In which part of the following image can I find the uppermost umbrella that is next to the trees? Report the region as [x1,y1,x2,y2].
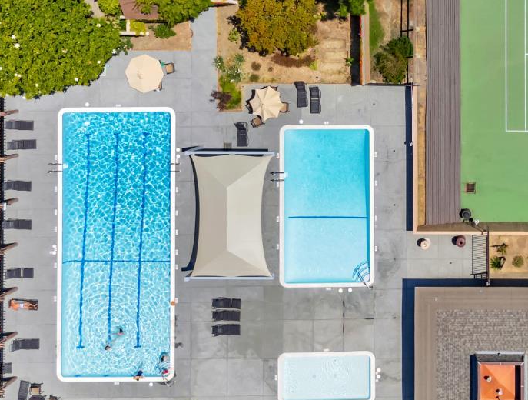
[127,55,164,91]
